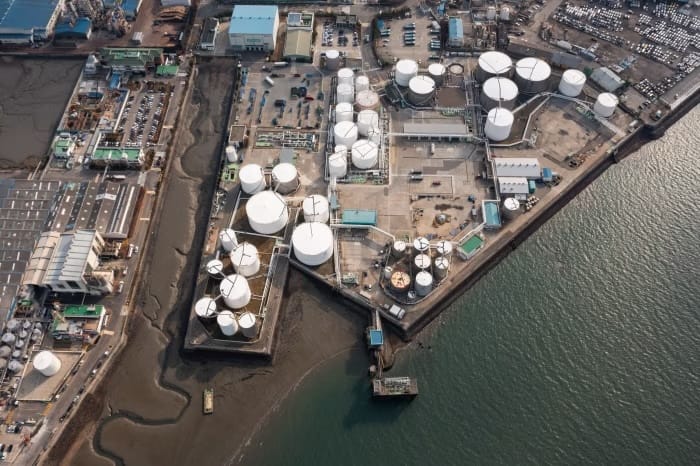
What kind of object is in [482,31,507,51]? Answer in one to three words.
shed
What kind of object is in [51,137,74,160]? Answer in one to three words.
building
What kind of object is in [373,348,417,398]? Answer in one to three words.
pier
